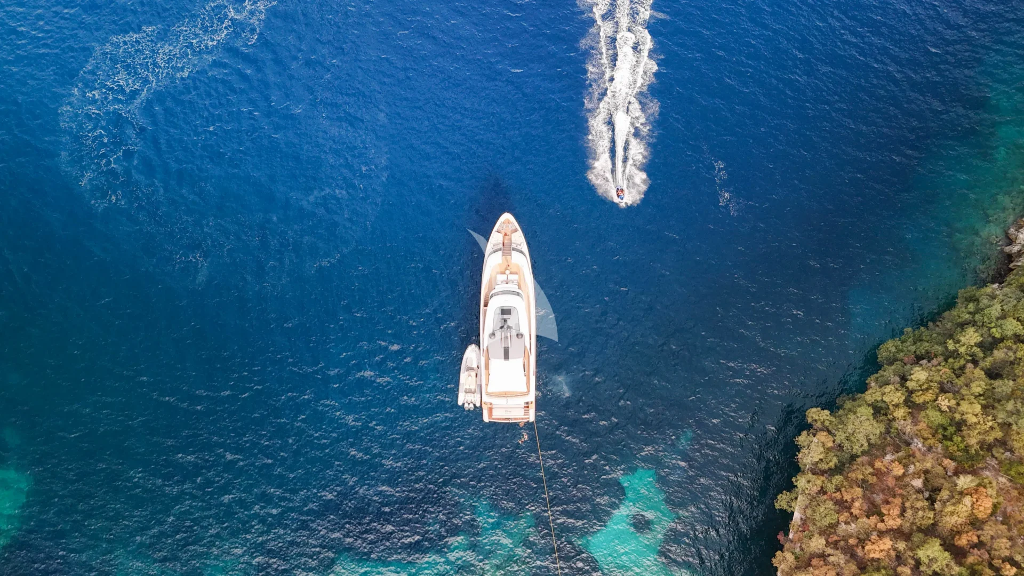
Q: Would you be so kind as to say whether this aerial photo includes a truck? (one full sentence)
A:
No, there isn't any truck down there.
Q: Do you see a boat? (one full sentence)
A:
Yes, the photo shows a boat.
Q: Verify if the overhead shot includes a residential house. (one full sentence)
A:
No, there appears to be no residential house in this shot.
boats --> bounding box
[479,213,537,423]
[616,183,625,205]
[458,344,481,410]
